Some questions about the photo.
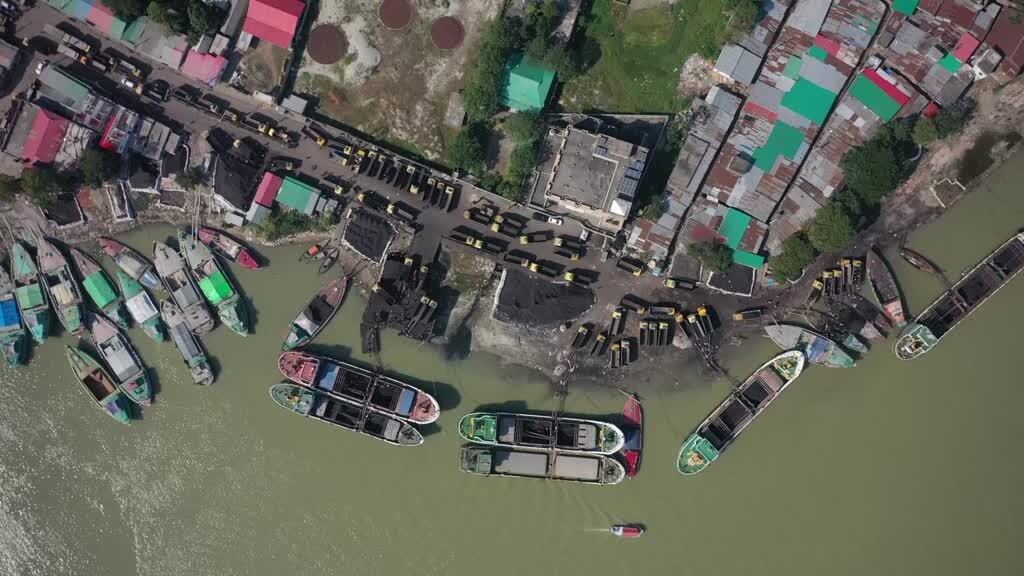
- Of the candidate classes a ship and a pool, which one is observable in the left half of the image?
ship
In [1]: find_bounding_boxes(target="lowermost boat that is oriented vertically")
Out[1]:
[620,394,643,479]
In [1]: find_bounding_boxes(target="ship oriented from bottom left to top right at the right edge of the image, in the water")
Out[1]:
[890,228,1024,356]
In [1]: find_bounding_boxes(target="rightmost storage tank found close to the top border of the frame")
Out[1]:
[430,16,464,51]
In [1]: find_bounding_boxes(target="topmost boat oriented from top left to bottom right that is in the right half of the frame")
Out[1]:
[898,247,943,274]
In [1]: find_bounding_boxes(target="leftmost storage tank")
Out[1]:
[307,23,349,65]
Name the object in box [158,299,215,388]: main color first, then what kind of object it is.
gray boat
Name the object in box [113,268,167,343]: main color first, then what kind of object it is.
white boat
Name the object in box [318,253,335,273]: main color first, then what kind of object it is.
gray boat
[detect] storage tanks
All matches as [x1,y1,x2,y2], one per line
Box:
[307,23,349,65]
[430,16,464,51]
[379,0,414,29]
